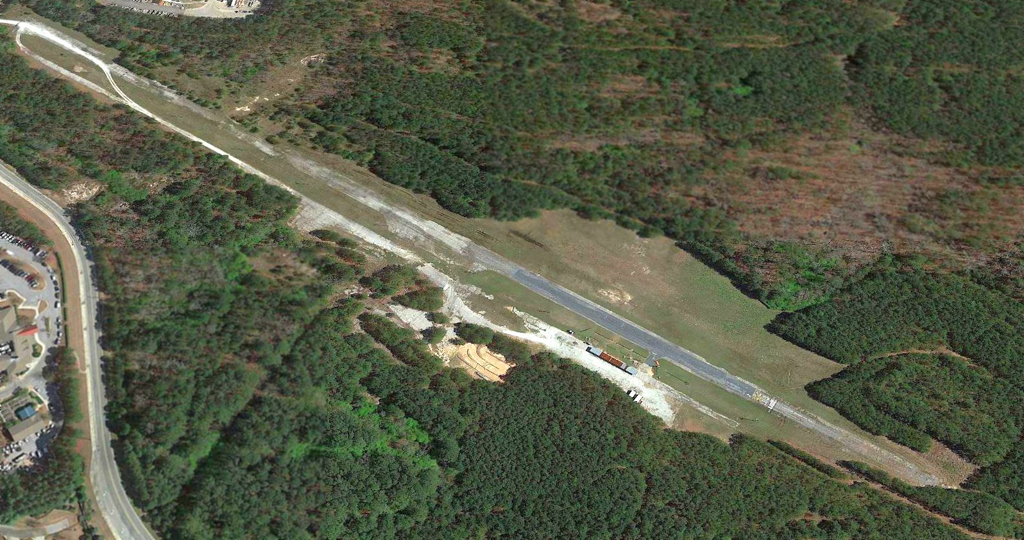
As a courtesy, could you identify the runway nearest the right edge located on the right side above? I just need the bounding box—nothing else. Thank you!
[746,389,941,487]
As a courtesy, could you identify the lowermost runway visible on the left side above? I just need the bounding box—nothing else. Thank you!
[282,151,516,276]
